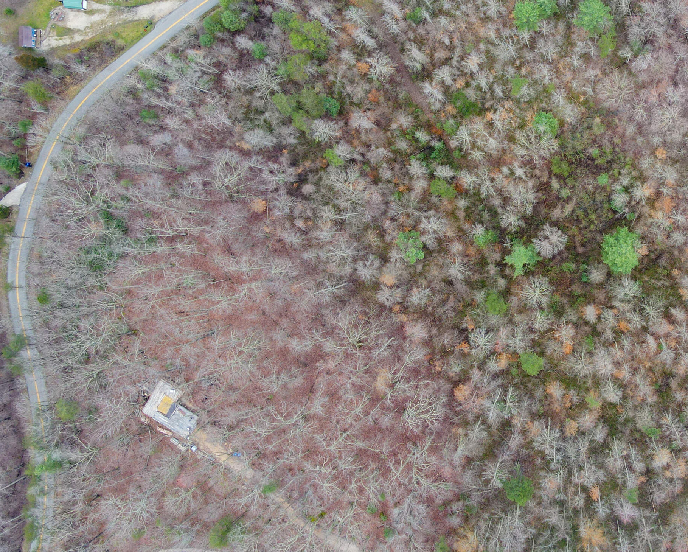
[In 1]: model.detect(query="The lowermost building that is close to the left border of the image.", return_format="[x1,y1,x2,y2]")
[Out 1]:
[17,24,44,49]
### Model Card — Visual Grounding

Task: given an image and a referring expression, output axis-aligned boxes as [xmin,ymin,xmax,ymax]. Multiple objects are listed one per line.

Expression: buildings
[61,0,93,12]
[17,24,44,49]
[142,382,198,438]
